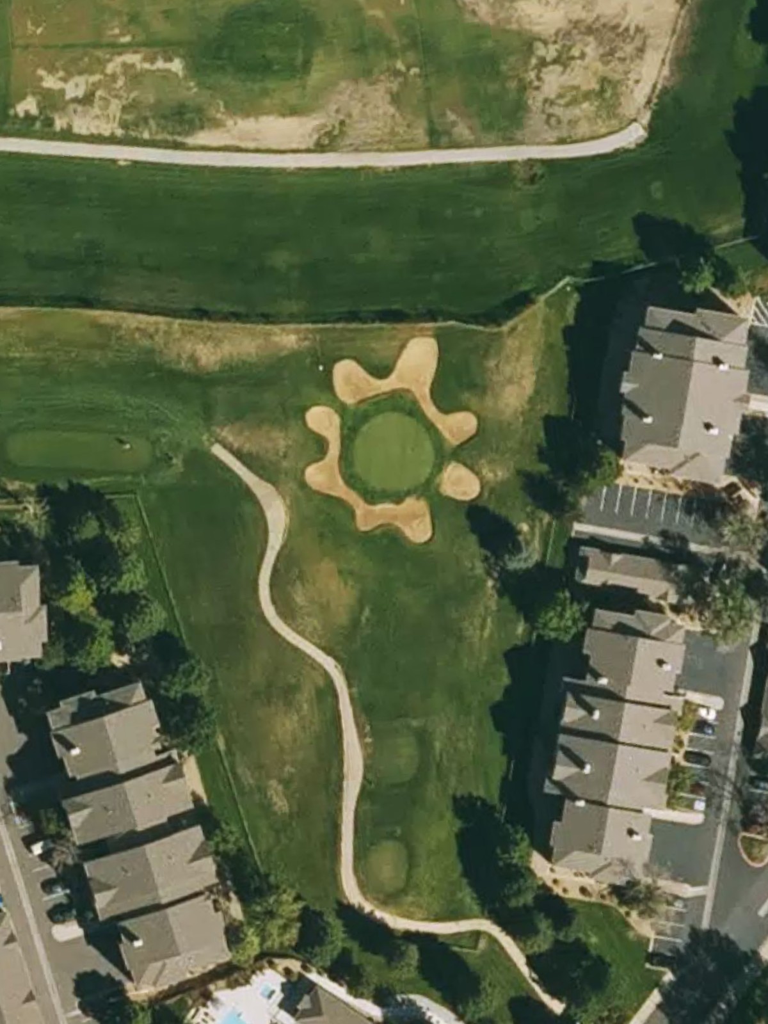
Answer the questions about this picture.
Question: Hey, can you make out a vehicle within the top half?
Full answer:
No, there's no vehicle to be seen within the top half.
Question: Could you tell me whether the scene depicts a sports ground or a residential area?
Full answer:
What you see here is a residential area.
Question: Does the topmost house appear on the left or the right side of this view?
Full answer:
You can find the topmost house on the right side of the picture.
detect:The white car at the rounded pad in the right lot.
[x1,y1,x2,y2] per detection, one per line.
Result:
[689,705,718,721]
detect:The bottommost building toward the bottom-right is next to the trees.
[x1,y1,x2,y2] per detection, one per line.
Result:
[551,800,655,885]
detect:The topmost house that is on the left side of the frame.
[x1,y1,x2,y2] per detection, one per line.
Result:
[0,561,46,663]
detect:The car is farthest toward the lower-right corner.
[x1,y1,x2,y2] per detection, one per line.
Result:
[647,953,677,968]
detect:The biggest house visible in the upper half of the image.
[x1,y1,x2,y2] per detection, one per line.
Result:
[619,306,753,485]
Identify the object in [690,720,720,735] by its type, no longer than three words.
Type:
car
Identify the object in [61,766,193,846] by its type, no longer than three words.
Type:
house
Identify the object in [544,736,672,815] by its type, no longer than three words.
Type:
house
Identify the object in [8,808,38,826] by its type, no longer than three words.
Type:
car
